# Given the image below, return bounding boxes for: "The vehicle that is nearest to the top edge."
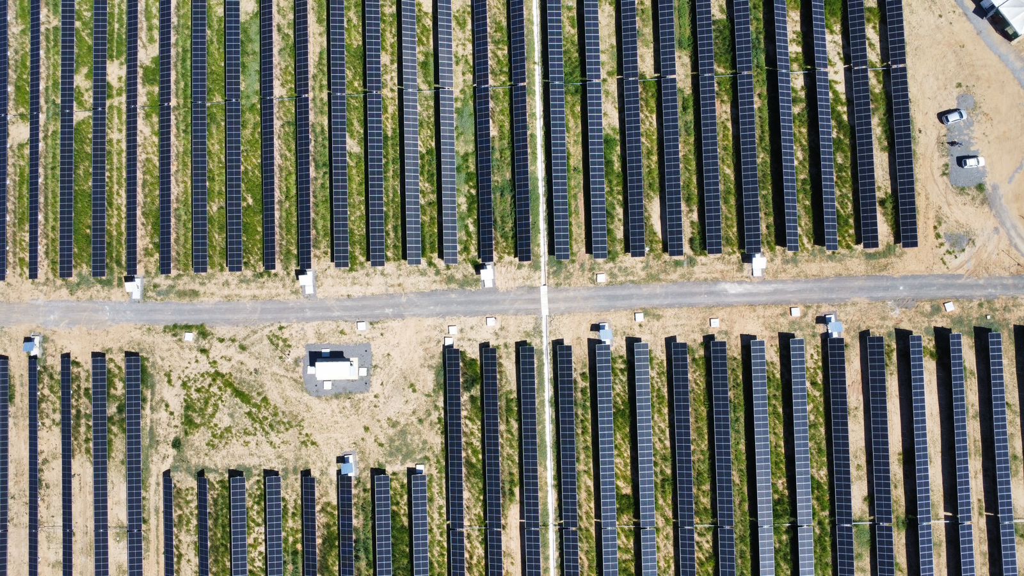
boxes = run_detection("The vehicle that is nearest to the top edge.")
[939,109,967,126]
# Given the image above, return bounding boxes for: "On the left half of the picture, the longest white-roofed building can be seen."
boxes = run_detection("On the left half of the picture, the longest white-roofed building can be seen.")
[315,359,357,380]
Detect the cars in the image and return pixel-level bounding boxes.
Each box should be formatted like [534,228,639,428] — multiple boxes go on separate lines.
[958,156,986,170]
[939,109,967,126]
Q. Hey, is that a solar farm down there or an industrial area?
solar farm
